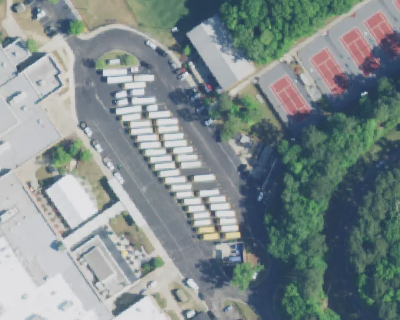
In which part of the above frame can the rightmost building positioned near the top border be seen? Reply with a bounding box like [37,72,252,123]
[187,14,255,90]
